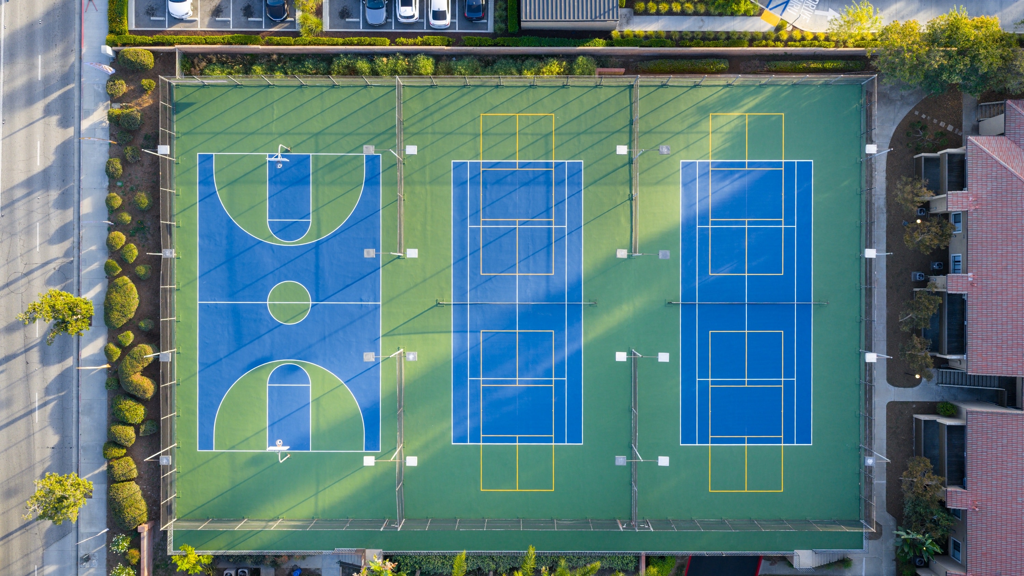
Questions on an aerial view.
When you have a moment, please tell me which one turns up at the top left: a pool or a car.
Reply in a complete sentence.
The feature located at the top left is a car.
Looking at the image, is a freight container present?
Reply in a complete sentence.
No, there is no freight container in the image.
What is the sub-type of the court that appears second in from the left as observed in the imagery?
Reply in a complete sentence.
Looking closely, the court that appears second in from the left is a tennis court.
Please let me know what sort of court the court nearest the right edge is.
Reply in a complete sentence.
The court nearest the right edge appears to be a tennis court.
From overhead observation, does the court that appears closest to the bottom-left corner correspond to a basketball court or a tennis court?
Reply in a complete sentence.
I'd say the court that appears closest to the bottom-left corner is a basketball court.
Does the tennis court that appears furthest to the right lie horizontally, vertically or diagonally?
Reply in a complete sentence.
In this picture, the tennis court that appears furthest to the right is oriented vertically.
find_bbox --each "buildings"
[902,401,1024,576]
[522,0,622,28]
[913,98,1024,378]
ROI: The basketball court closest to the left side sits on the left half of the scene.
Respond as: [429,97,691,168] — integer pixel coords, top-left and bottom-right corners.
[197,153,381,452]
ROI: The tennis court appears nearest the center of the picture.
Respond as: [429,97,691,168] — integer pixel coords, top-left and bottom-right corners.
[452,114,583,491]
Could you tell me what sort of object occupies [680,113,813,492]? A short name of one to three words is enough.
tennis court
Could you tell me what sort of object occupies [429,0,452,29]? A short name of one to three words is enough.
car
